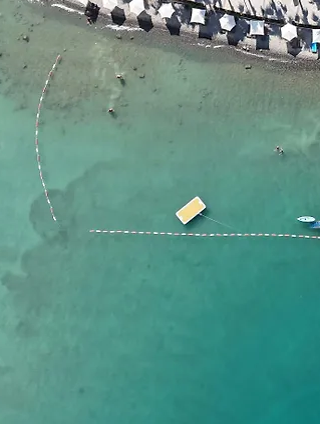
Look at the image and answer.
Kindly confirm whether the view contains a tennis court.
No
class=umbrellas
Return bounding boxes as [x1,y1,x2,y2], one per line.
[103,0,118,10]
[250,20,264,35]
[159,2,175,18]
[312,29,320,43]
[190,8,206,23]
[129,0,145,16]
[280,23,296,40]
[219,13,235,31]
